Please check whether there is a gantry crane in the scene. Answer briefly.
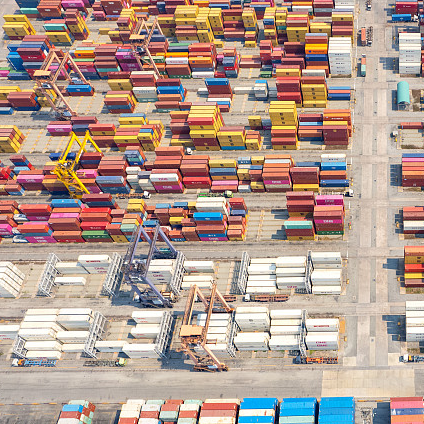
Yes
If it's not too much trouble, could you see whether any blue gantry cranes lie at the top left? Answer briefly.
No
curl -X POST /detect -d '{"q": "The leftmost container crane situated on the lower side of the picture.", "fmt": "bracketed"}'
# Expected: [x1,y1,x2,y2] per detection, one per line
[127,229,182,311]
